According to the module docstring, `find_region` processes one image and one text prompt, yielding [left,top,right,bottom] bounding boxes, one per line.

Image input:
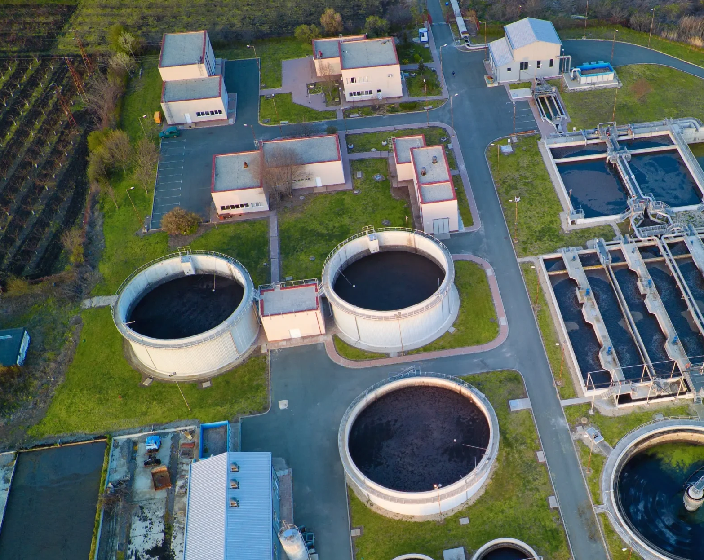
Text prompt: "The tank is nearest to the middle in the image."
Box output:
[319,221,460,352]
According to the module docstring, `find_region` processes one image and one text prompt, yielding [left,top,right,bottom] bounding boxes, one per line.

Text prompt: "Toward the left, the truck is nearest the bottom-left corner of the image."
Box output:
[139,429,162,470]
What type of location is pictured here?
industrial area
